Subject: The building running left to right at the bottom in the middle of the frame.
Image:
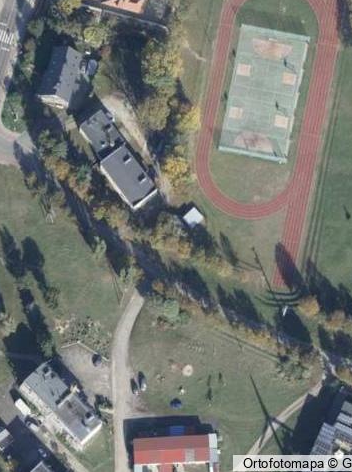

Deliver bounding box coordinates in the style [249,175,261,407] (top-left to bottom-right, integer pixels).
[133,433,218,472]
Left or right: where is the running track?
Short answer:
right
